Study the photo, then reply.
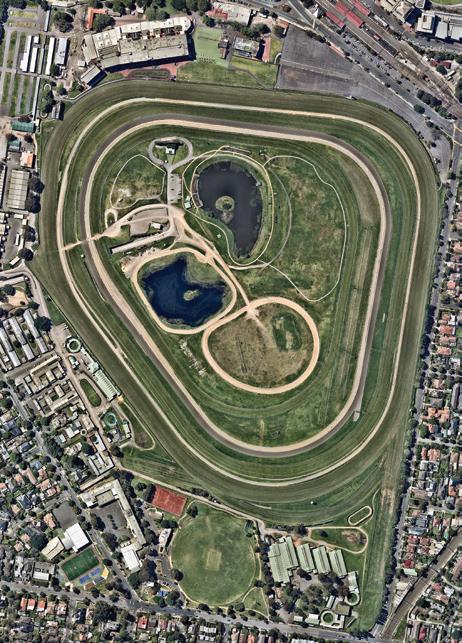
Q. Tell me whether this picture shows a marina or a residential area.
residential area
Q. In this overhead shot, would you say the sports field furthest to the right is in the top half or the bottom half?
bottom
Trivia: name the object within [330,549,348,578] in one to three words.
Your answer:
building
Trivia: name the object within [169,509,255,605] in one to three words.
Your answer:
sports field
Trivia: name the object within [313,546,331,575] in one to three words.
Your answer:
building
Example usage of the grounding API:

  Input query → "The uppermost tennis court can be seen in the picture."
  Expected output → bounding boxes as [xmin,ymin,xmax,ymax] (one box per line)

[148,485,188,517]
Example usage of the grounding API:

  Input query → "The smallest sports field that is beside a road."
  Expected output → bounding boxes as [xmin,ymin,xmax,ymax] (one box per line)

[60,545,100,583]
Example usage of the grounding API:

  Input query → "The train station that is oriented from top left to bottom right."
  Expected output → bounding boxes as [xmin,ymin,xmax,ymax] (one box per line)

[317,0,417,72]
